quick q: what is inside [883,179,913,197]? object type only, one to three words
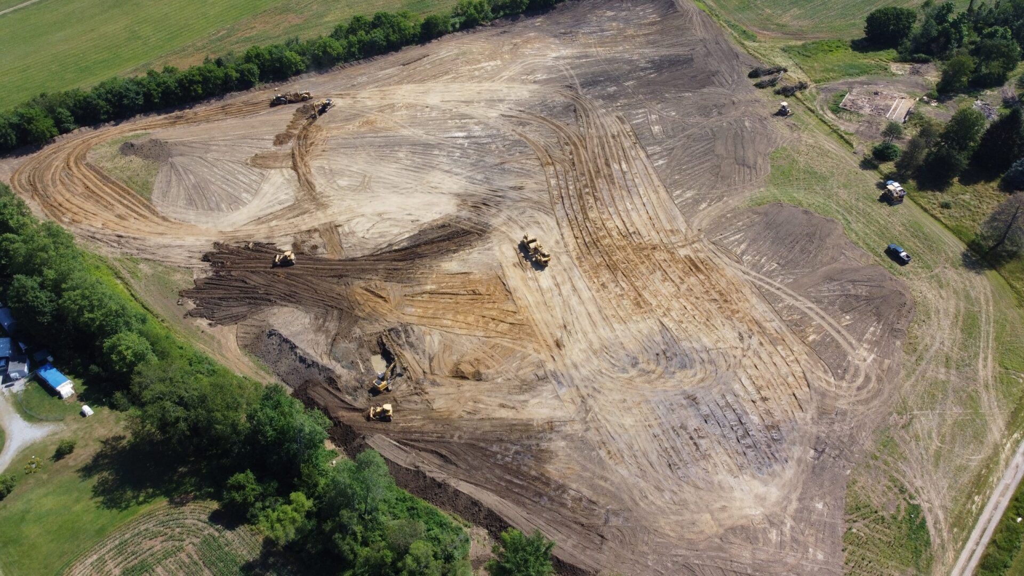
vehicle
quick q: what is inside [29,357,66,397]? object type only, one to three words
shed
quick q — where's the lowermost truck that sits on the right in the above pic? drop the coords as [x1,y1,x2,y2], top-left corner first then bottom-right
[883,242,916,263]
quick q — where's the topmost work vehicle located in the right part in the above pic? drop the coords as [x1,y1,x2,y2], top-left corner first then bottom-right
[778,100,795,117]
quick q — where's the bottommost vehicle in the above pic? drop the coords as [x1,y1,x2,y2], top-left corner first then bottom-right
[367,405,392,425]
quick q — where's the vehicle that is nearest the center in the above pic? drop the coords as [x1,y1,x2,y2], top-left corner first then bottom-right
[369,363,404,398]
